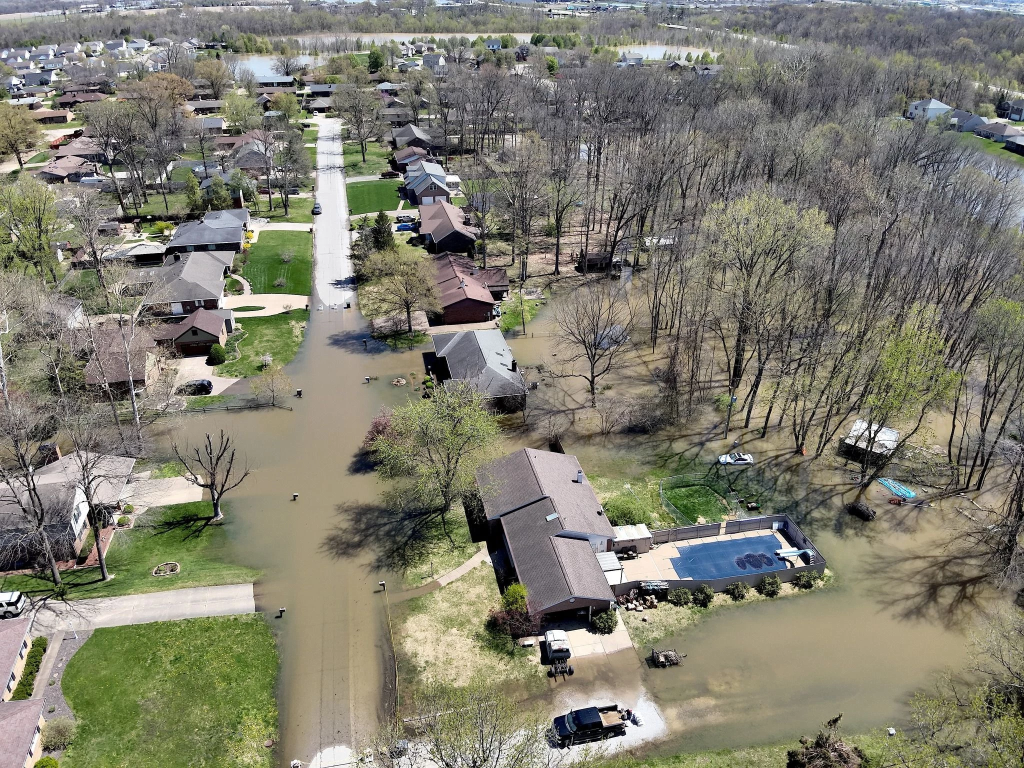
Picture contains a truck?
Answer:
Yes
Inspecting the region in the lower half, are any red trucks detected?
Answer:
No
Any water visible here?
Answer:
Yes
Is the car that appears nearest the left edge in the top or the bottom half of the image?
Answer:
bottom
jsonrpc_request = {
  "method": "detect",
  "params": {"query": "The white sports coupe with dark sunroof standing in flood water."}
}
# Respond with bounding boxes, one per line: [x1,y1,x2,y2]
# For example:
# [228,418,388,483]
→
[717,450,756,466]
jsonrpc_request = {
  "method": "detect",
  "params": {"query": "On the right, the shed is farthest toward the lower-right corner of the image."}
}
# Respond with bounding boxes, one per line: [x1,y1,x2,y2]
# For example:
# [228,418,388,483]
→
[845,420,900,471]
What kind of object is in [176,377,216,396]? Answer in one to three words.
car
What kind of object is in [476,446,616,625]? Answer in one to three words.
house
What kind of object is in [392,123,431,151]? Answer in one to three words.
house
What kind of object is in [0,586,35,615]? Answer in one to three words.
car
